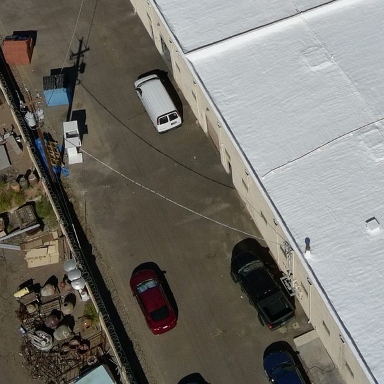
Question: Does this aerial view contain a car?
Yes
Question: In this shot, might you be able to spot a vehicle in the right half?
Yes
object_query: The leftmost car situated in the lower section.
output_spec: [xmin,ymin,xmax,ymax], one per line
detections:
[132,268,179,337]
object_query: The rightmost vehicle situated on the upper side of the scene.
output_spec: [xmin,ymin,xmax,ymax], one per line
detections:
[132,72,185,137]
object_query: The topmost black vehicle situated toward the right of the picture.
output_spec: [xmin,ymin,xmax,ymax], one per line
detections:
[234,247,298,335]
